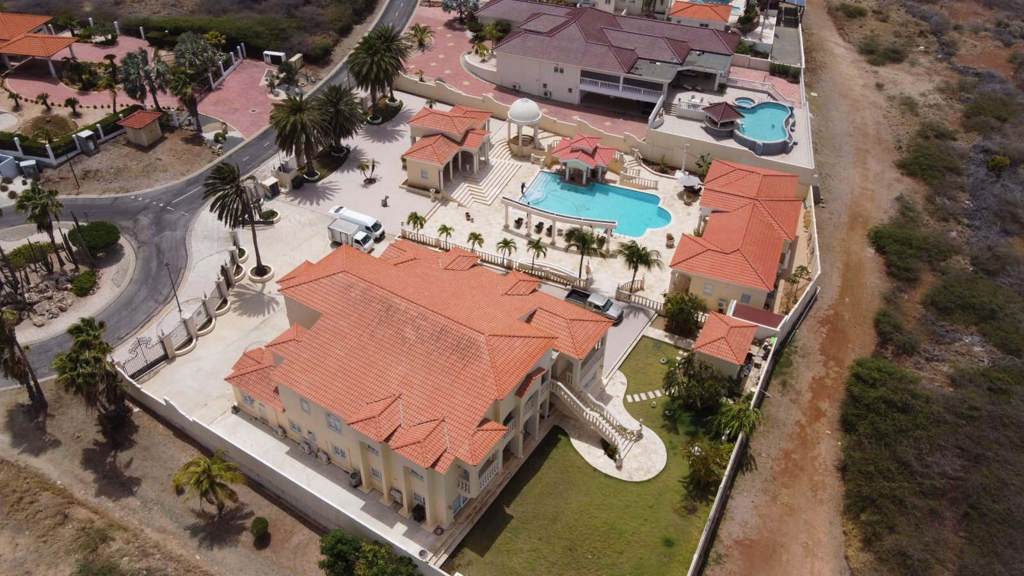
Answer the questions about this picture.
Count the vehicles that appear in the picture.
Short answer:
3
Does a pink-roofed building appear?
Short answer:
Yes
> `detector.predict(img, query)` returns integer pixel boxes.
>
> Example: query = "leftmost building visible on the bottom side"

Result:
[225,244,615,535]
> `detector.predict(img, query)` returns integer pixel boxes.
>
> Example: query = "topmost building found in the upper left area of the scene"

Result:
[0,10,53,41]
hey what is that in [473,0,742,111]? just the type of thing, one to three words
house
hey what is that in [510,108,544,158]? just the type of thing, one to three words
gazebo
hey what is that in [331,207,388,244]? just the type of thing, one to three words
van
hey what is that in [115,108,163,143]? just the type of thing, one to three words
shed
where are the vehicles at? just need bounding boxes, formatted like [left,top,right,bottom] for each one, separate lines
[563,292,625,326]
[326,218,375,255]
[331,207,388,244]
